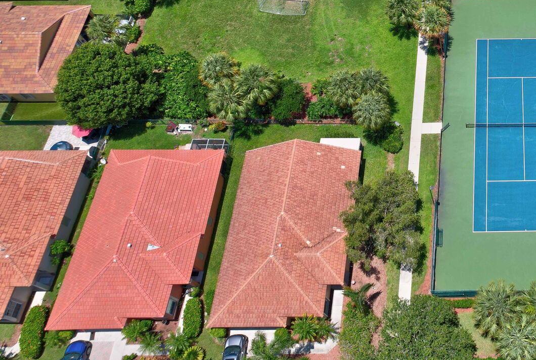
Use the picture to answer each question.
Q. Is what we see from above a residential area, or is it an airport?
residential area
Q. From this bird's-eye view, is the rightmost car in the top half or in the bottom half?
bottom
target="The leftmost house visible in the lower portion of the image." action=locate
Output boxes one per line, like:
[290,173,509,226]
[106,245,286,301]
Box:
[0,151,92,321]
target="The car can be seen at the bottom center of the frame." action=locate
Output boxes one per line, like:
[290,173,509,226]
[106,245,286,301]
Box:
[219,333,246,360]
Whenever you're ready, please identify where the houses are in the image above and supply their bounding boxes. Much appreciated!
[205,137,362,329]
[0,1,93,100]
[0,151,92,321]
[46,149,227,332]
